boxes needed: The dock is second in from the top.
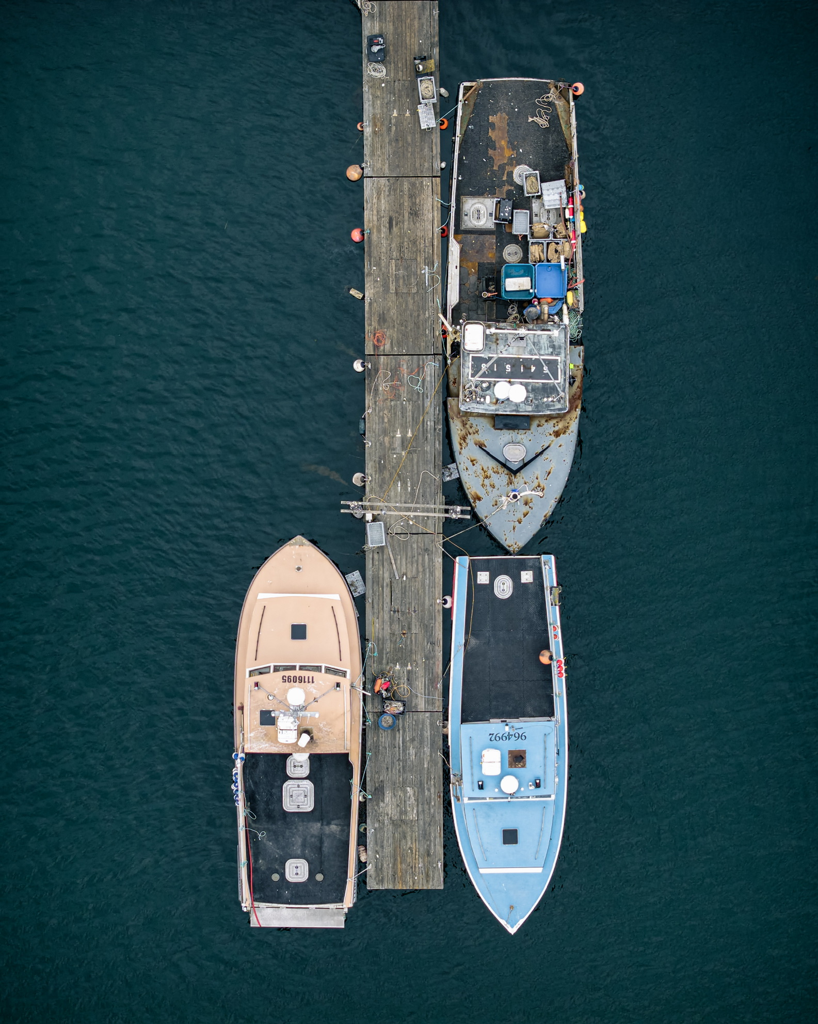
[364,178,441,356]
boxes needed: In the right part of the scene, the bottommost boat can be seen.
[449,555,569,934]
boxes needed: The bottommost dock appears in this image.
[366,711,443,889]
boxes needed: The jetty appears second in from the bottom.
[366,534,443,711]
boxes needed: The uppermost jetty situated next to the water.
[362,0,440,178]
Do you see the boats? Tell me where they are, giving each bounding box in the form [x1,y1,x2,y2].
[449,555,569,934]
[233,535,370,928]
[438,78,584,556]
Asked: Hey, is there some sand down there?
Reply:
No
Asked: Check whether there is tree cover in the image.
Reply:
No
